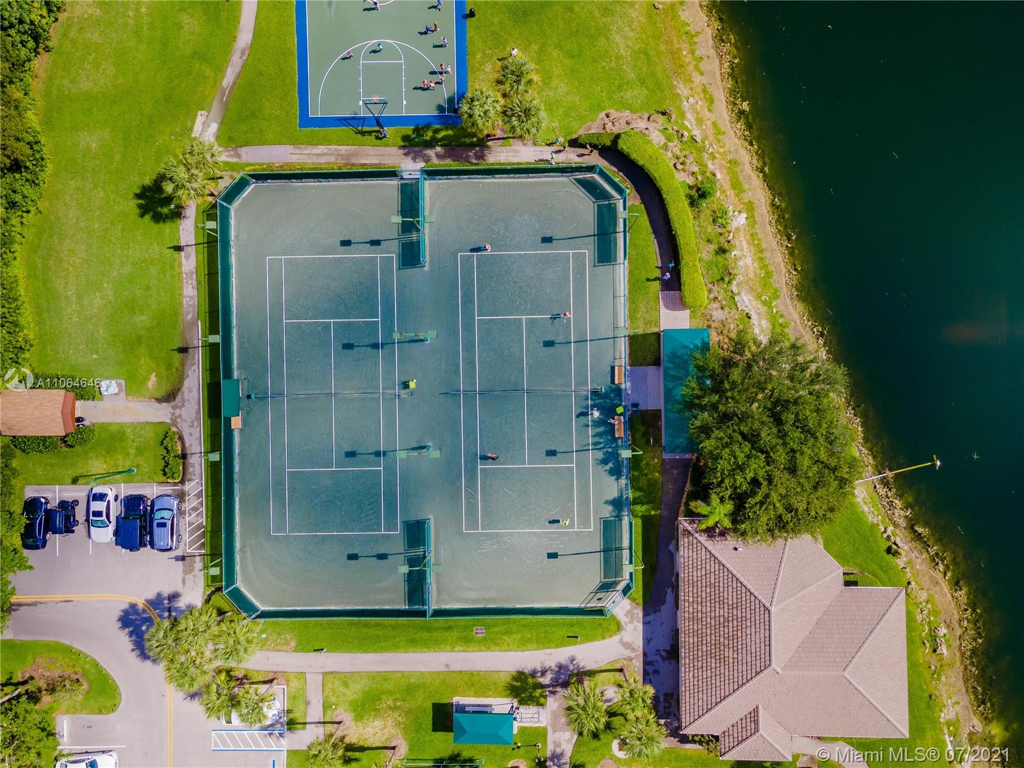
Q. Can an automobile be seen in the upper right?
No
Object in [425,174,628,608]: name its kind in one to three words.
tennis court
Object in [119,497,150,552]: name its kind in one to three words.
car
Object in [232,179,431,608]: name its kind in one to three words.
tennis court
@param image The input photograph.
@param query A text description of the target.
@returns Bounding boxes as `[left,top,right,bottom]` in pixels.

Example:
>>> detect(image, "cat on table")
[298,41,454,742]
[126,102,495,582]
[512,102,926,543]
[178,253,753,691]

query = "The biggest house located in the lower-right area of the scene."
[678,517,909,762]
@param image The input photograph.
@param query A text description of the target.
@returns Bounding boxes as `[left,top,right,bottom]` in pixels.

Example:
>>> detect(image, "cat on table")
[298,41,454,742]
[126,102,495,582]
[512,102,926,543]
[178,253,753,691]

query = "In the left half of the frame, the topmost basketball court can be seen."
[295,0,469,128]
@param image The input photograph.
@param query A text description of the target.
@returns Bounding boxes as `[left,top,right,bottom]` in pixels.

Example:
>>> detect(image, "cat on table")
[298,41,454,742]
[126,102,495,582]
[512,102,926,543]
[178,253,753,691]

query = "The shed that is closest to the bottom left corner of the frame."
[0,389,81,436]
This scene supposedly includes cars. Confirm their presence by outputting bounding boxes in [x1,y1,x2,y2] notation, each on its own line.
[57,752,118,768]
[23,496,51,550]
[119,497,150,552]
[152,495,182,552]
[88,486,118,543]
